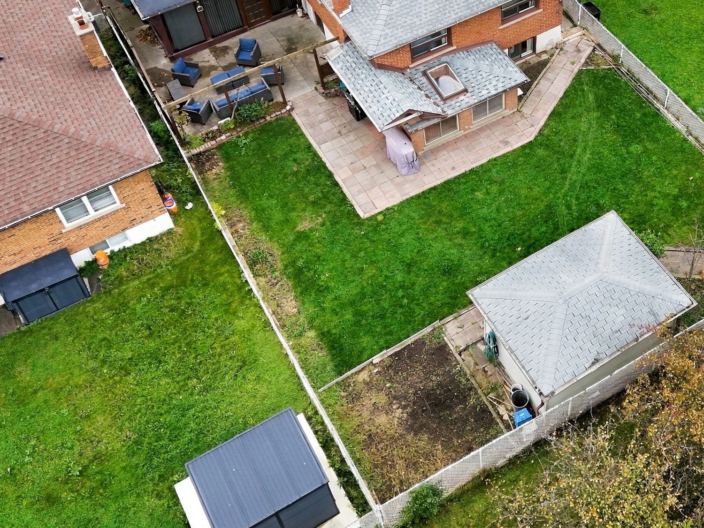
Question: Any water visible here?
No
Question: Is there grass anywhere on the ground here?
Yes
